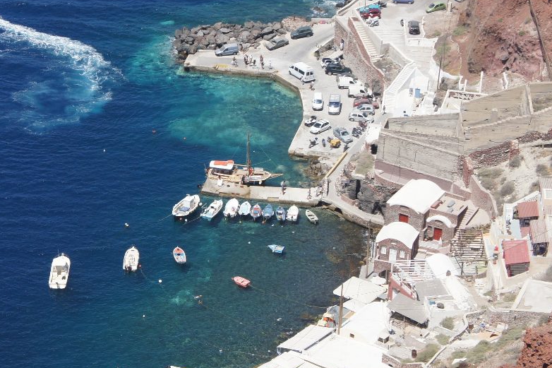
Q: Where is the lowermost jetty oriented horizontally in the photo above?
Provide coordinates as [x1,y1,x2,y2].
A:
[201,178,318,210]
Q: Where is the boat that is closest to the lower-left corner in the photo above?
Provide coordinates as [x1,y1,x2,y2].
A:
[47,254,68,294]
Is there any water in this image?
Yes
